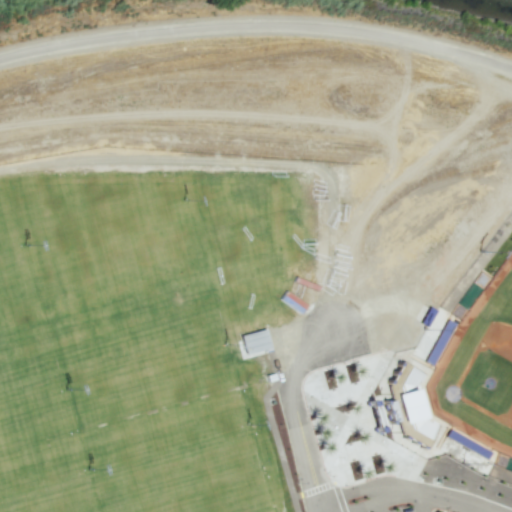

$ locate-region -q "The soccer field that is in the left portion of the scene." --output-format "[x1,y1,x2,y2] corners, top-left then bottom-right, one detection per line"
[0,168,320,512]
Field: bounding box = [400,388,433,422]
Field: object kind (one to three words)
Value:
building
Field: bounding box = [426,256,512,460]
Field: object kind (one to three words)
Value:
baseball field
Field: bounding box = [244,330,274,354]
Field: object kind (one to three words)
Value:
shed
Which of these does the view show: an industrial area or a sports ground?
sports ground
